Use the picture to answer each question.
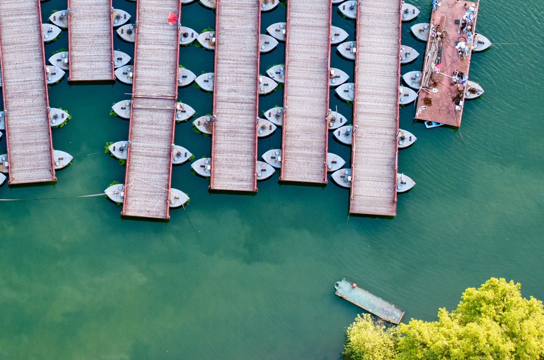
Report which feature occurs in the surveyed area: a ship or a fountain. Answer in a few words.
ship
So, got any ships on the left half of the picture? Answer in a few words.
No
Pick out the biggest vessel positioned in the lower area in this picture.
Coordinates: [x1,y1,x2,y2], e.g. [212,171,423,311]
[336,279,404,325]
